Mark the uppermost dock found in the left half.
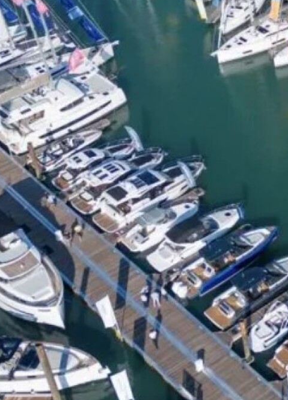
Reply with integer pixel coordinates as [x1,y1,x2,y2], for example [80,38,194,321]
[28,122,111,172]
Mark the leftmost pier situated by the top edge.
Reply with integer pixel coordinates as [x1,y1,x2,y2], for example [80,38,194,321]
[196,0,238,25]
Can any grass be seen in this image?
No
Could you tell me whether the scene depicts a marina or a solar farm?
marina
